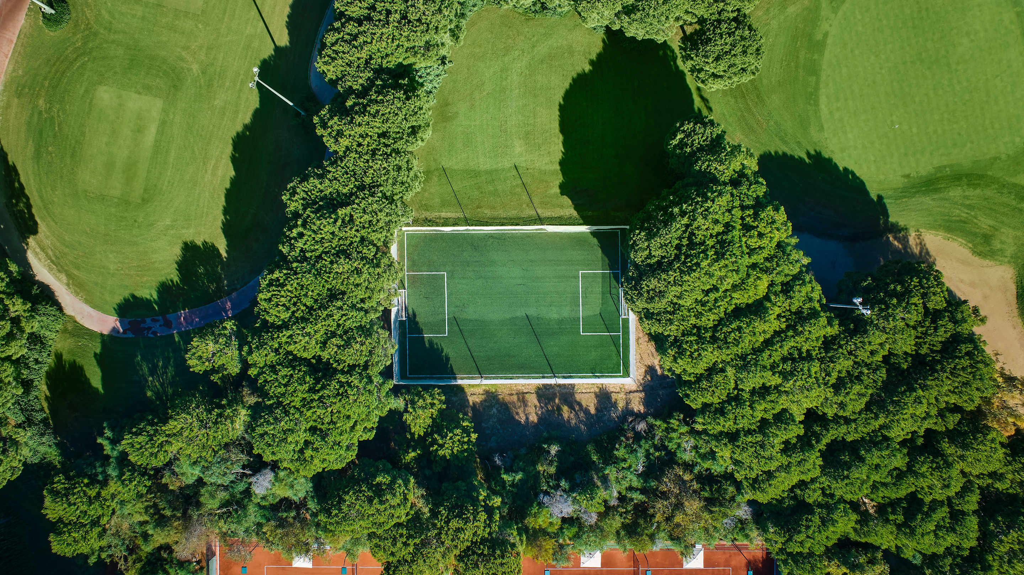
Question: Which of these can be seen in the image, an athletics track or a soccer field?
soccer field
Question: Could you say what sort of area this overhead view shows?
golf course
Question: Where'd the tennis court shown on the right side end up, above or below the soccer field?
below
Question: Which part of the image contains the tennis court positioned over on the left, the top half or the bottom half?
bottom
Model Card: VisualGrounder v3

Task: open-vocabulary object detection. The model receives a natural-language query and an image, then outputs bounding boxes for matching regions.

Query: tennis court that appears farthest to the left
[220,539,385,575]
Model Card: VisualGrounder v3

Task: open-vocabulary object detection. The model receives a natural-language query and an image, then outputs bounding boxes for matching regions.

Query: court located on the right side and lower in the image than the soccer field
[521,544,769,575]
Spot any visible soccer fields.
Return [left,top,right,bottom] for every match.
[398,229,630,379]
